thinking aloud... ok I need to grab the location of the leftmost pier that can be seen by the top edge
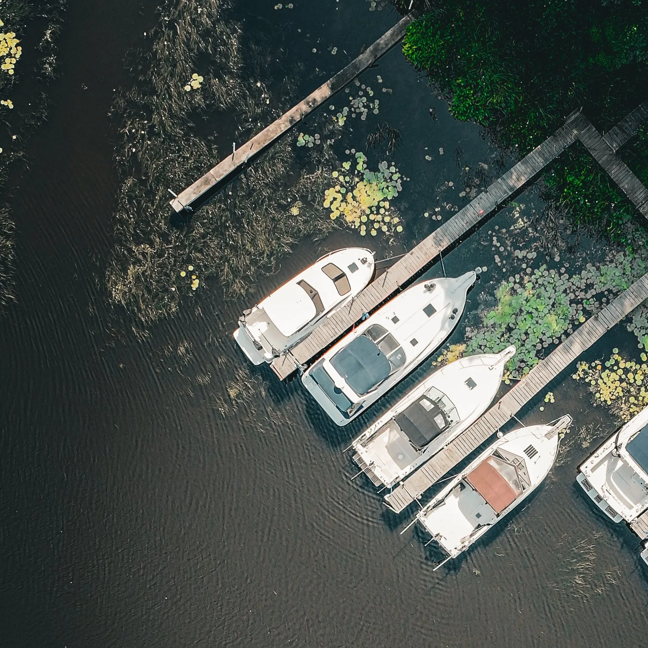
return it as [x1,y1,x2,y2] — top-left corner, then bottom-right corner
[166,0,422,215]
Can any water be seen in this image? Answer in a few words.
Yes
